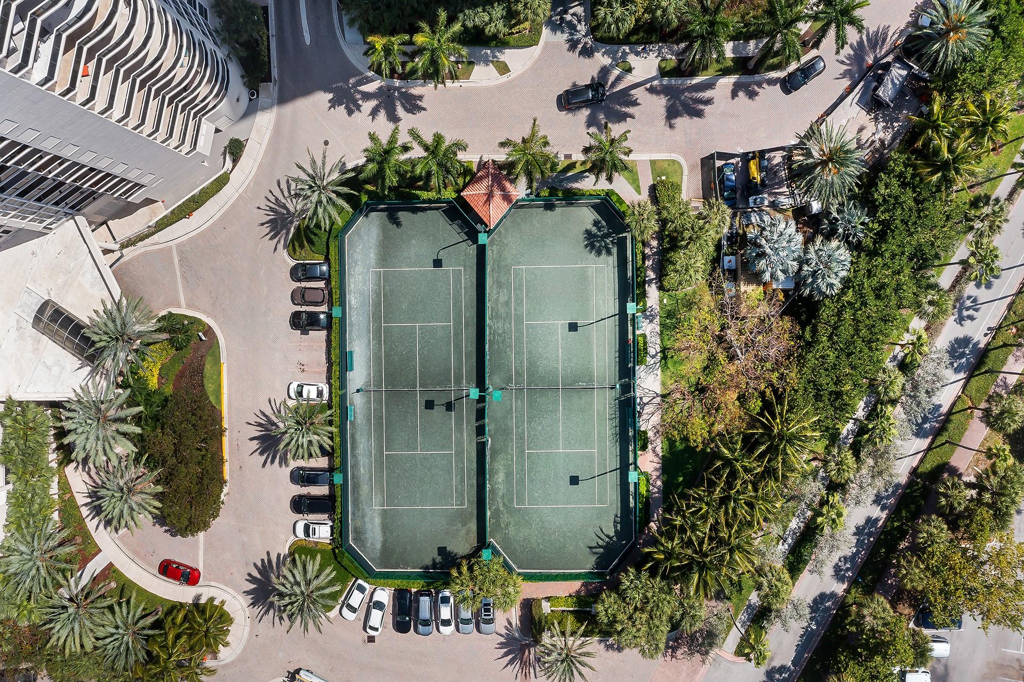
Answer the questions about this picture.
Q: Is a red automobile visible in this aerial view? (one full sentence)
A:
Yes, the photo shows a red automobile.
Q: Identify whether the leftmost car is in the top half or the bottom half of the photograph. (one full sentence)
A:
It is in the bottom half that the leftmost car appears.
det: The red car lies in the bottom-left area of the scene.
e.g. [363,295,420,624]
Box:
[153,559,200,588]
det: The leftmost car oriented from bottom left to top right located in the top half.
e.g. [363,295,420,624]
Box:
[784,51,831,90]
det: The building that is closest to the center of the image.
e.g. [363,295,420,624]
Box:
[460,159,520,228]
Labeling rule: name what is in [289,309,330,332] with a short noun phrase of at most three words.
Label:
car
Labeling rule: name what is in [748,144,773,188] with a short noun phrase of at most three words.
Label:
work vehicle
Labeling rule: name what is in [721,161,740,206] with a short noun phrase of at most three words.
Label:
car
